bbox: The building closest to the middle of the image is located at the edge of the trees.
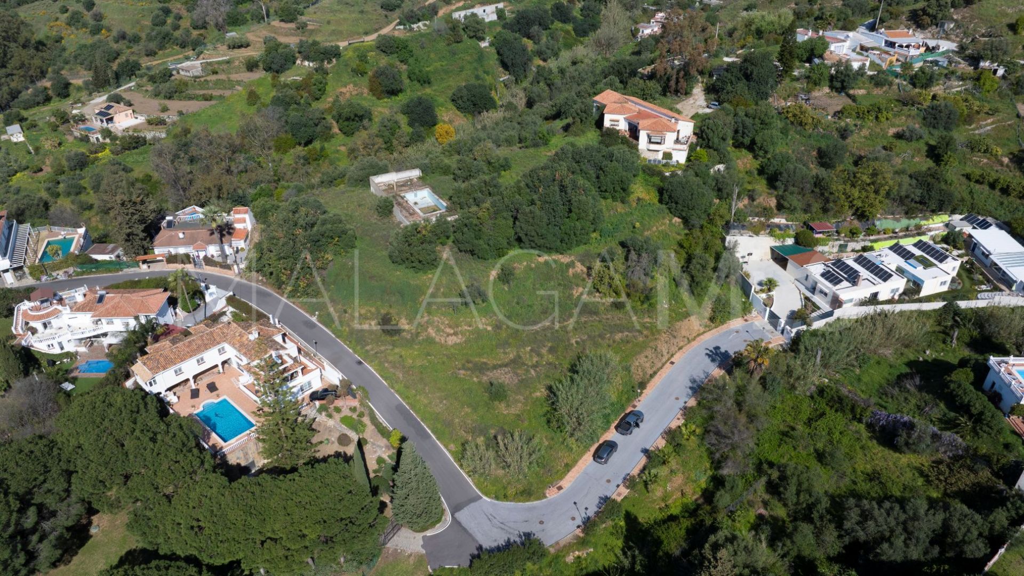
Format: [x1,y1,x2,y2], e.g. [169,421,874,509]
[370,174,423,200]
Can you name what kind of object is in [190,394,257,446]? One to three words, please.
swimming pool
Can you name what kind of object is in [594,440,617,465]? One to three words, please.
car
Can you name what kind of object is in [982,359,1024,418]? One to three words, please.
building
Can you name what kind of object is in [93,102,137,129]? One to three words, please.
house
